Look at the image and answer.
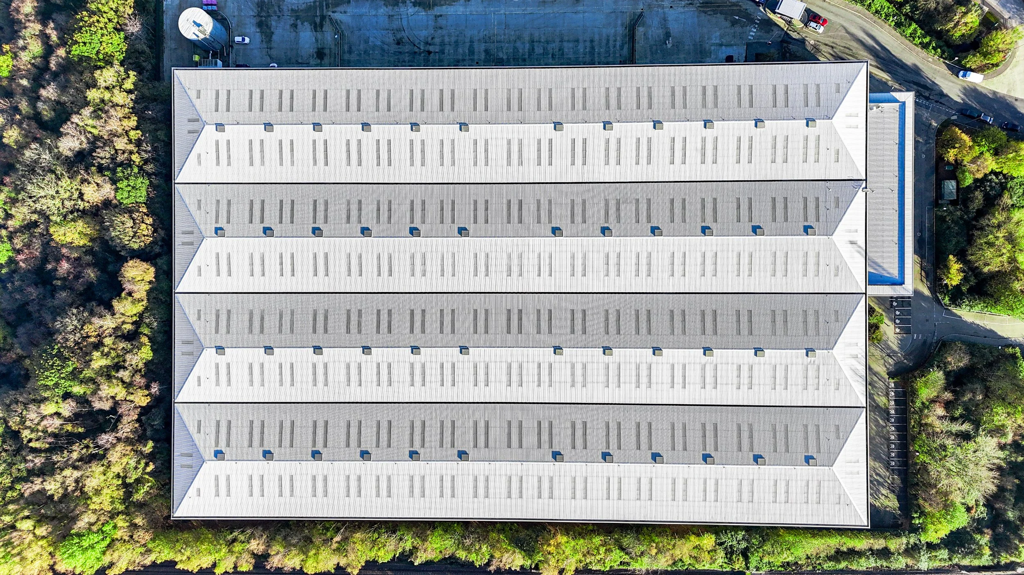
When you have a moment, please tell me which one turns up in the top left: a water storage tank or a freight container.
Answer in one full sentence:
The one visible in the top left is a water storage tank.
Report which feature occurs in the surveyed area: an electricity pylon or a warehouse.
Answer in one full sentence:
Of the two, only a warehouse appears.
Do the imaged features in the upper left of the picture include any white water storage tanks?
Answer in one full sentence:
Yes, in the upper left of the picture there is a white water storage tank.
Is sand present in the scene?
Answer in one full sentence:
No, the scene doesn't show any sand.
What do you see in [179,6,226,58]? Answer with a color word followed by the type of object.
white water tank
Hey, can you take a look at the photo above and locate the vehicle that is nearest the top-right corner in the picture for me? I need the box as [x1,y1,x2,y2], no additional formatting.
[959,70,986,82]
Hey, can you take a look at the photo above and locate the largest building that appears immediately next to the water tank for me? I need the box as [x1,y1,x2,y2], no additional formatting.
[171,59,870,529]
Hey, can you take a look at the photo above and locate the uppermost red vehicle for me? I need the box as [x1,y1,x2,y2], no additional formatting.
[809,13,827,26]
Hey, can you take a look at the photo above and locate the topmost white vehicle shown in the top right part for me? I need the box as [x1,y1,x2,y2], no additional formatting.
[806,20,824,33]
